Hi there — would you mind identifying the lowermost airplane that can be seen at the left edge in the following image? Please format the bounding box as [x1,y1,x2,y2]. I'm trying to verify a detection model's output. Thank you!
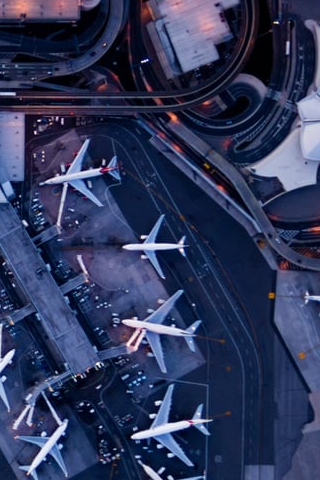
[13,420,68,480]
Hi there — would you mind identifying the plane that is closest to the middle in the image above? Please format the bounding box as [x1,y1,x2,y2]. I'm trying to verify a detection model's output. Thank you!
[122,213,189,279]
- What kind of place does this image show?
airport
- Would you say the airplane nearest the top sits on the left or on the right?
left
